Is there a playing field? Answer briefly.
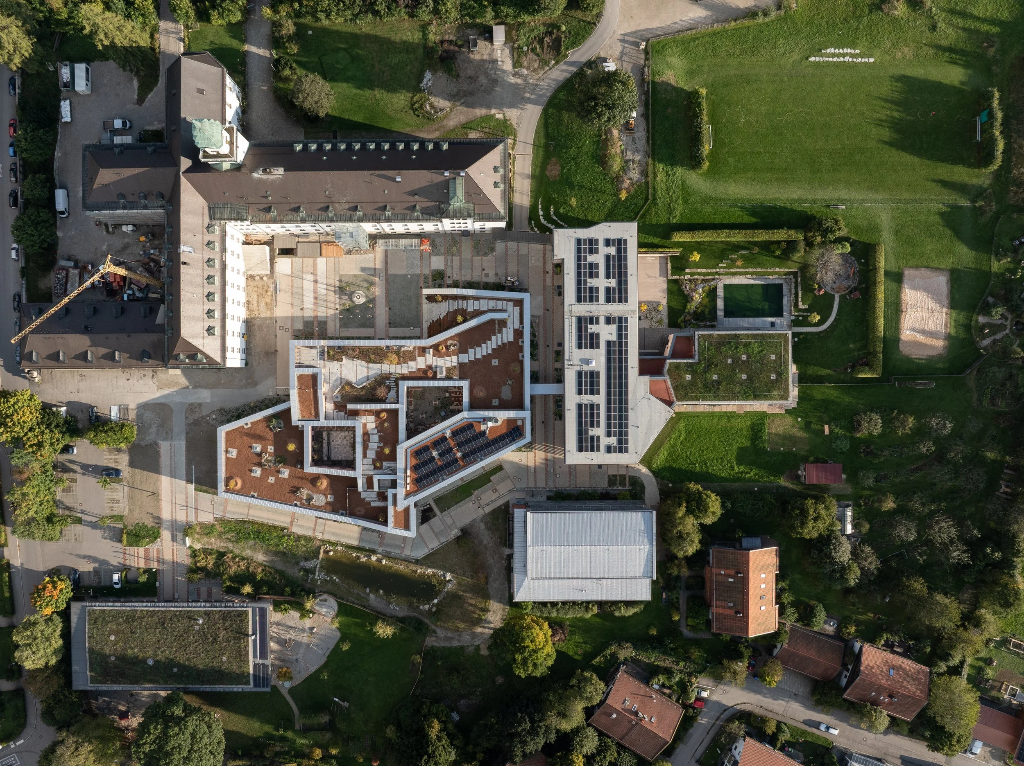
Yes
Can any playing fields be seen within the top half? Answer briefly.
Yes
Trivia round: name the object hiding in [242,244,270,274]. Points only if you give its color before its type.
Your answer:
white tent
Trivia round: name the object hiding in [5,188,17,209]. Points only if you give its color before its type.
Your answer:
black vehicle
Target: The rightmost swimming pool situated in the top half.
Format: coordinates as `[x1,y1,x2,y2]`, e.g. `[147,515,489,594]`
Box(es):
[717,278,791,327]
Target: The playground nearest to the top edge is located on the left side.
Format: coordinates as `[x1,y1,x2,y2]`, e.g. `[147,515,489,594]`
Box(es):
[271,603,341,694]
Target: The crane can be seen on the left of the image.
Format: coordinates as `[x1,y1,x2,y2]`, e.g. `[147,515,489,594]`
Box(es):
[10,253,165,342]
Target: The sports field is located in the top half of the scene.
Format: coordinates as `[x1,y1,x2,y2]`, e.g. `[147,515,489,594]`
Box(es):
[638,13,999,232]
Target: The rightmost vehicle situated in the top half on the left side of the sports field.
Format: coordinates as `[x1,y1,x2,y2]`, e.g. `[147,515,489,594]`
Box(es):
[626,111,638,137]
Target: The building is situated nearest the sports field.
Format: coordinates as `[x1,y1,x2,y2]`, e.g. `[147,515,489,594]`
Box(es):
[552,221,675,464]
